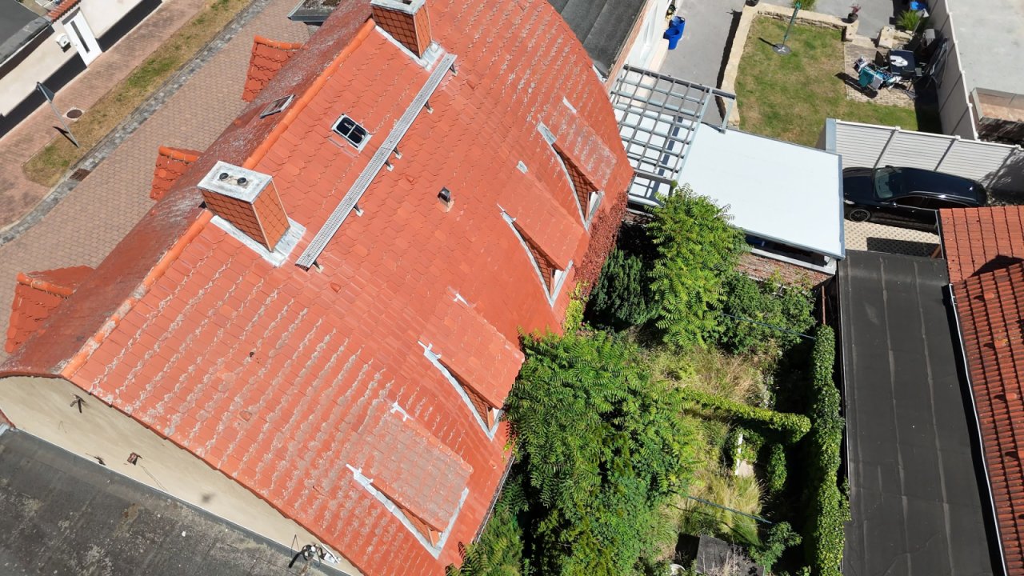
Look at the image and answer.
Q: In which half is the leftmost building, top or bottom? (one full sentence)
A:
Seen from above, the leftmost building lies in the top half of the view.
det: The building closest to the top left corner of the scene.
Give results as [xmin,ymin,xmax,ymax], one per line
[0,6,55,71]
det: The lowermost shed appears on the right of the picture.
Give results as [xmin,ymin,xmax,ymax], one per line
[688,532,756,576]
